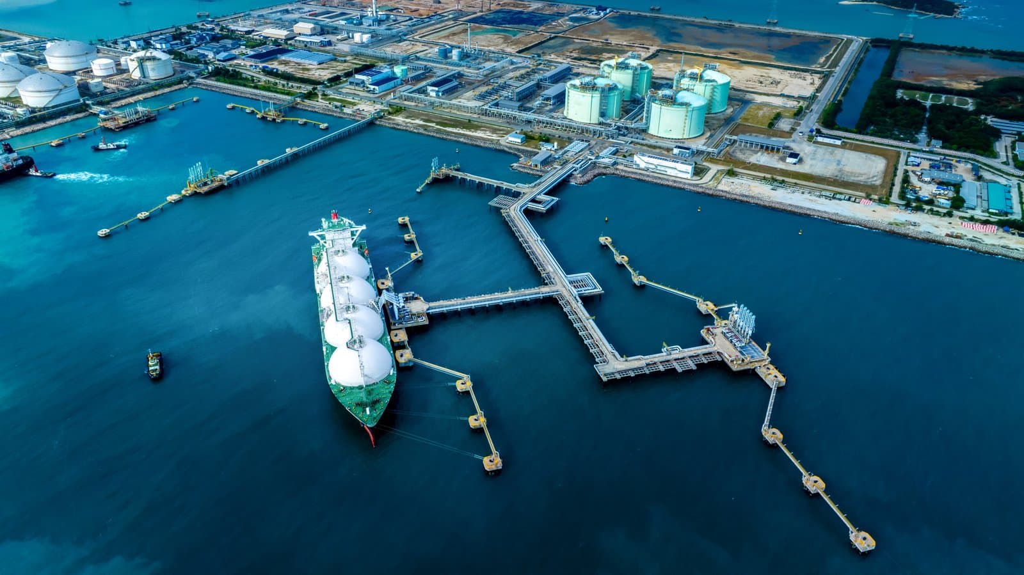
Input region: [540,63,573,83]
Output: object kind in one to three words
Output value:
building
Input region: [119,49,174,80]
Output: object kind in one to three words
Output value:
storage tank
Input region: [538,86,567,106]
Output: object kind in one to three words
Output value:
shed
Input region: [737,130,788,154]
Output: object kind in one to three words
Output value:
shed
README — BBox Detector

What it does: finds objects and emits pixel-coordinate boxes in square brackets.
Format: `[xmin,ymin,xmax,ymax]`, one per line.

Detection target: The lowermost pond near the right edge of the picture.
[895,51,1024,73]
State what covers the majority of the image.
water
